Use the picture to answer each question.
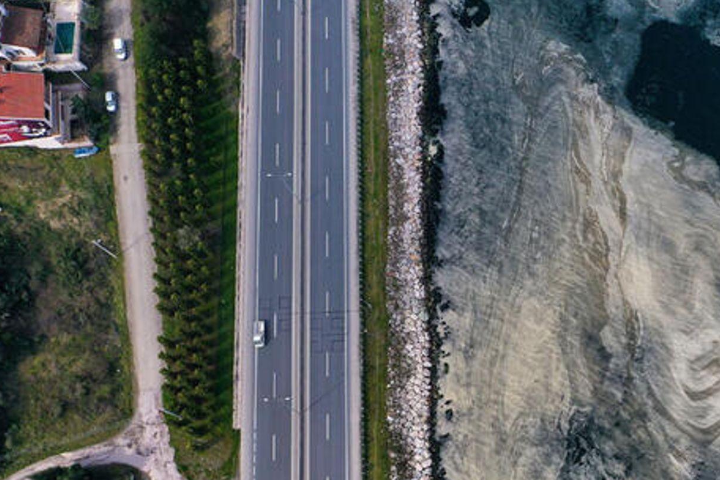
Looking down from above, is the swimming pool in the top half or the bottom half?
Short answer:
top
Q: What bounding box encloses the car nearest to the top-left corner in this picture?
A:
[114,37,127,58]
